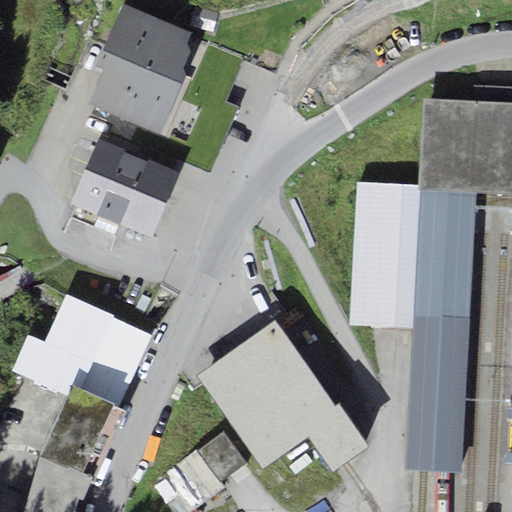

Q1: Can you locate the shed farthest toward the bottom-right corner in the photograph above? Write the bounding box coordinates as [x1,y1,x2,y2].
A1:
[405,316,470,473]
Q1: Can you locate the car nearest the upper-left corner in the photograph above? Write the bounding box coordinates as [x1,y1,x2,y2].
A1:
[82,42,100,71]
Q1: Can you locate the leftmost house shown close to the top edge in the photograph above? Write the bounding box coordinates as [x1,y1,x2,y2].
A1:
[89,4,193,136]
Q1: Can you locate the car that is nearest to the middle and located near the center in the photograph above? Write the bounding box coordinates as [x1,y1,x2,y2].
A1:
[244,254,256,278]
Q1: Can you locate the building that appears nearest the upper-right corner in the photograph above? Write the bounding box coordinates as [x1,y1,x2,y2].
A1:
[419,98,512,194]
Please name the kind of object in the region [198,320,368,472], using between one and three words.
building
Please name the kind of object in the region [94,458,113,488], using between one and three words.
vehicle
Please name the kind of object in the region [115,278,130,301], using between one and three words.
car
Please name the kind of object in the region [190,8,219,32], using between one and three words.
shed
